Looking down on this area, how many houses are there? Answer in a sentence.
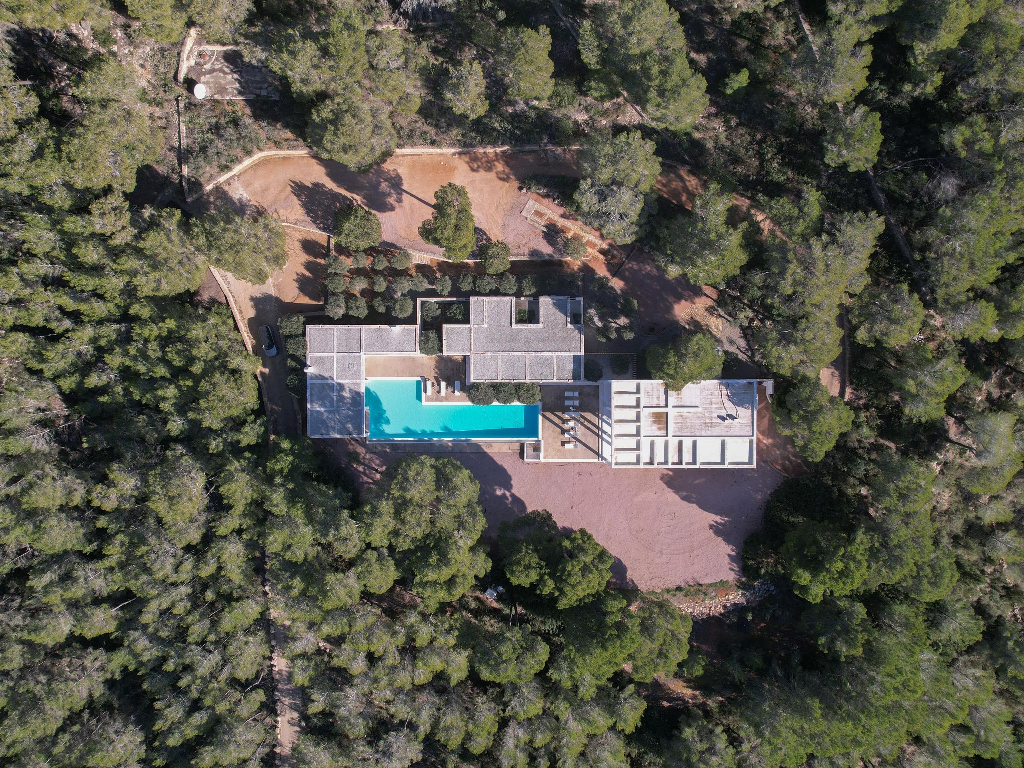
In total, 3 houses can be seen.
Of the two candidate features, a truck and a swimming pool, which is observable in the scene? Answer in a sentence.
Looking from above, you can make out a swimming pool.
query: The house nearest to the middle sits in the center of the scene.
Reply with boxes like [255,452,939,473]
[442,296,584,385]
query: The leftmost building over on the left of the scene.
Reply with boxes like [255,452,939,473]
[303,324,422,438]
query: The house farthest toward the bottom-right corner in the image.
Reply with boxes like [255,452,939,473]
[603,380,758,469]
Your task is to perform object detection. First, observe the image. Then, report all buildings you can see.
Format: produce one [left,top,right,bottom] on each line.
[603,380,758,469]
[303,324,422,438]
[442,296,584,385]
